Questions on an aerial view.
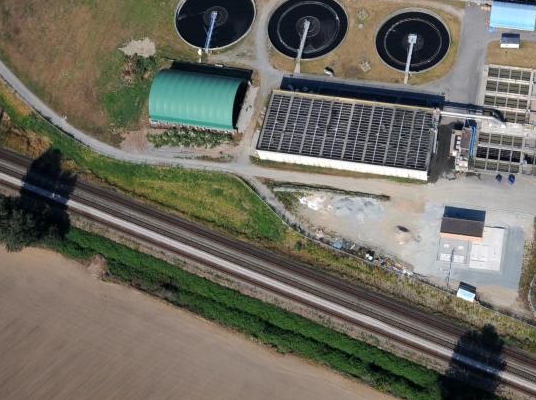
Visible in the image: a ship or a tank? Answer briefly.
tank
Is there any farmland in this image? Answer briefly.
Yes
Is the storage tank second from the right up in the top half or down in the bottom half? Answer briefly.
top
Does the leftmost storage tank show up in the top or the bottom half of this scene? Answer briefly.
top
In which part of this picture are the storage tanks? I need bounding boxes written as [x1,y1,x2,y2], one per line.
[267,0,350,72]
[374,8,453,83]
[174,0,257,53]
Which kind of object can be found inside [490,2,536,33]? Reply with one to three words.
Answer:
shed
